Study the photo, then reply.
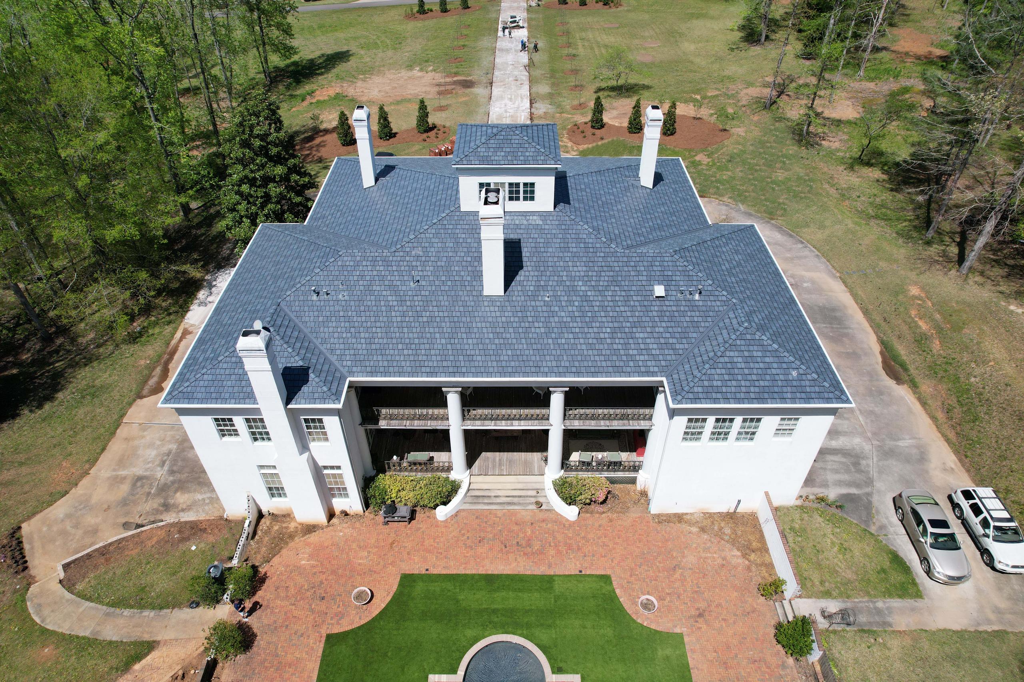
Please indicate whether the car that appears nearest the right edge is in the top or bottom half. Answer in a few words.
bottom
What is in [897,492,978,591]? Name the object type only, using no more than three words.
car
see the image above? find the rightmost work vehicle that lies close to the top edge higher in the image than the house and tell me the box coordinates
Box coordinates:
[498,10,524,28]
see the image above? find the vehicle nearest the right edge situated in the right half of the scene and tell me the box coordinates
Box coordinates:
[955,486,1024,585]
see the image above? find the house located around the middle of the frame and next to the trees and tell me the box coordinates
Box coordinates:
[159,101,854,523]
